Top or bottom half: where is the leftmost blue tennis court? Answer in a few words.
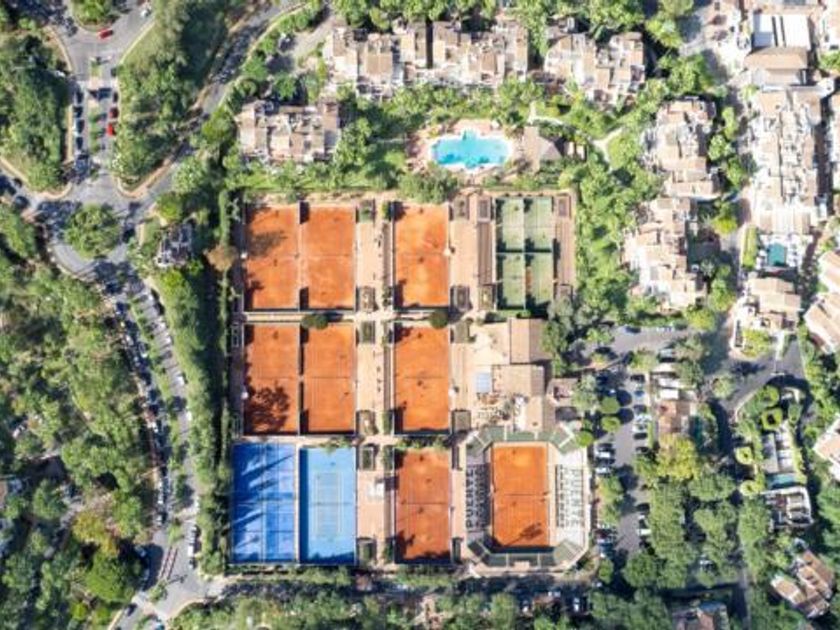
bottom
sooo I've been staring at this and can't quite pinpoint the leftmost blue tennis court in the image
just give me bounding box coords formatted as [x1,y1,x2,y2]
[231,443,298,566]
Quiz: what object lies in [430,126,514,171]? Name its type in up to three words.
swimming pool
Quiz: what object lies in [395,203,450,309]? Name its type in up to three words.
tennis court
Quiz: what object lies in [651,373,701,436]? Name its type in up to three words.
building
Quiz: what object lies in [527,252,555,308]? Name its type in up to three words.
sports court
